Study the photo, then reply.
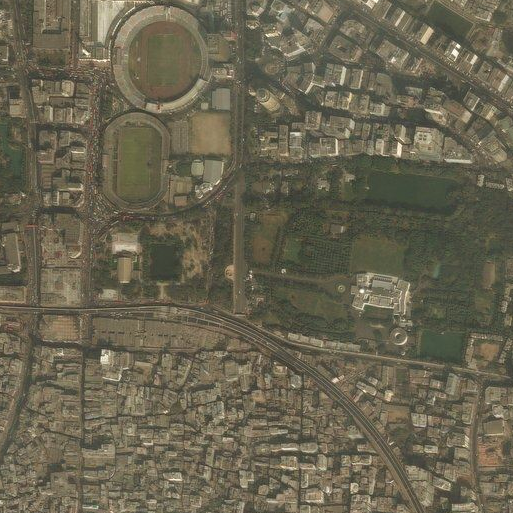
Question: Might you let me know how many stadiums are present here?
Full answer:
In total, 2 stadiums can be seen.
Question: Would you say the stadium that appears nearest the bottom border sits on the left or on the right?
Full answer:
You can find the stadium that appears nearest the bottom border on the left side of the picture.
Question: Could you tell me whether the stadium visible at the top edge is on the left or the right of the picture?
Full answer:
The stadium visible at the top edge is on the left side of the image.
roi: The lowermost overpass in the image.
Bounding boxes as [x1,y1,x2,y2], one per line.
[0,303,427,513]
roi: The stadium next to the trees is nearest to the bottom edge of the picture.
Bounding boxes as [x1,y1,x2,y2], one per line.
[102,112,169,211]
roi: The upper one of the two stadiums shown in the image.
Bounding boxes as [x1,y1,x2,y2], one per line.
[115,8,209,113]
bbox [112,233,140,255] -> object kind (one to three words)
building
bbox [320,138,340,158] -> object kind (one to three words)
building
